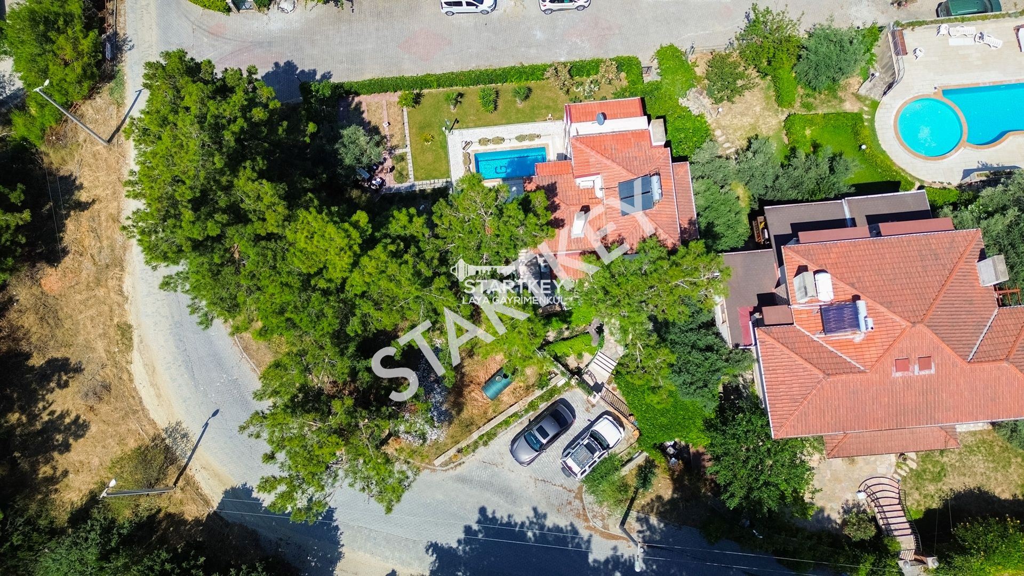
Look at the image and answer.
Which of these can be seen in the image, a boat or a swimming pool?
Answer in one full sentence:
I can see a swimming pool in this picture.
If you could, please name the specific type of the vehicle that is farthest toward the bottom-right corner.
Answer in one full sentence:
I'd identify the vehicle that is farthest toward the bottom-right corner as an automobile.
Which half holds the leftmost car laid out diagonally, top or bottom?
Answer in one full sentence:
The leftmost car laid out diagonally sits in the bottom half of the picture.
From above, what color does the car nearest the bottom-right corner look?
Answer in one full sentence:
The car nearest the bottom-right corner is white.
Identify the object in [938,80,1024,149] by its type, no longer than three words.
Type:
swimming pool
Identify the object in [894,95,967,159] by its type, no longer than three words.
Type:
swimming pool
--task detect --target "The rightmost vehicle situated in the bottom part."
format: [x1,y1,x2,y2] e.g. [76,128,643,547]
[559,413,628,485]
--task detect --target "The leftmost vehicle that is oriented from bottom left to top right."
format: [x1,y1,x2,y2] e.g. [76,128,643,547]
[509,396,578,468]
